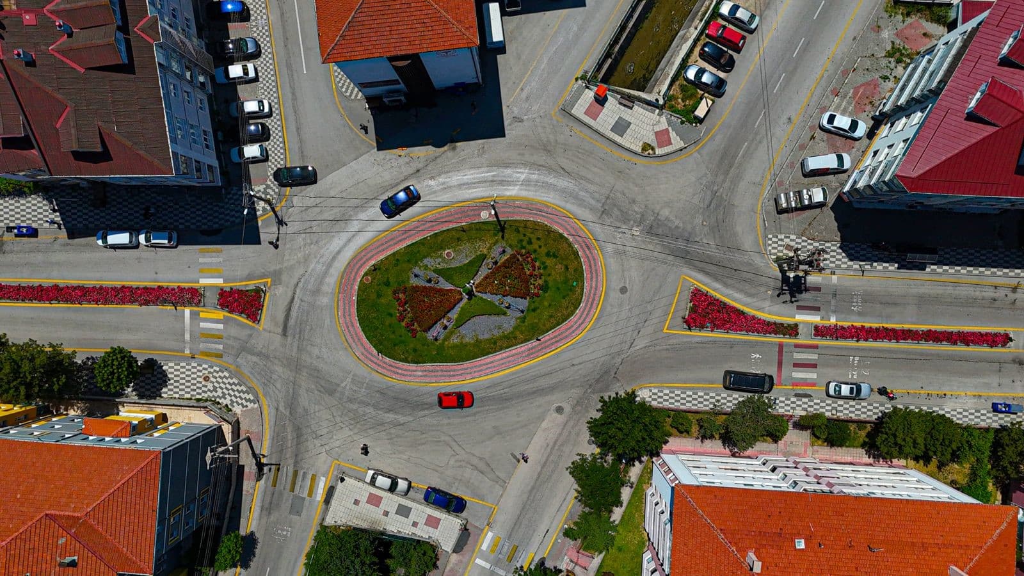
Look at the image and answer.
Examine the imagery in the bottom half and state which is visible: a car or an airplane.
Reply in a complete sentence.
Looking in the bottom half, you will find a car.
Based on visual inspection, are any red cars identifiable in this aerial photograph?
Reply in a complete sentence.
Yes, the frame does contain a red car.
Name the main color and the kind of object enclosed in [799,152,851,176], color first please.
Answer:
white vehicle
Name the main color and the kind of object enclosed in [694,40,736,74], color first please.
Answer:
black car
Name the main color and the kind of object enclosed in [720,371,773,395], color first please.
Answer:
black vehicle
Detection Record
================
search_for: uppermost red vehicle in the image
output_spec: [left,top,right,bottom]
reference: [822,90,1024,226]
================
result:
[702,22,749,54]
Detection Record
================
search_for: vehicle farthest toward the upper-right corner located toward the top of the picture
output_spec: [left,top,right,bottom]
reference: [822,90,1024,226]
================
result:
[815,110,866,142]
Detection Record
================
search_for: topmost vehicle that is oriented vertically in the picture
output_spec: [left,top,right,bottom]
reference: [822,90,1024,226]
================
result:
[482,0,504,54]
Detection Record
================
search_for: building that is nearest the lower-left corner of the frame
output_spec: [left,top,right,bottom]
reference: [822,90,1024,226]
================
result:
[0,401,222,576]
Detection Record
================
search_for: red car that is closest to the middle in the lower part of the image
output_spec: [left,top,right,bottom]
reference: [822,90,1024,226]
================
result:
[437,390,473,410]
